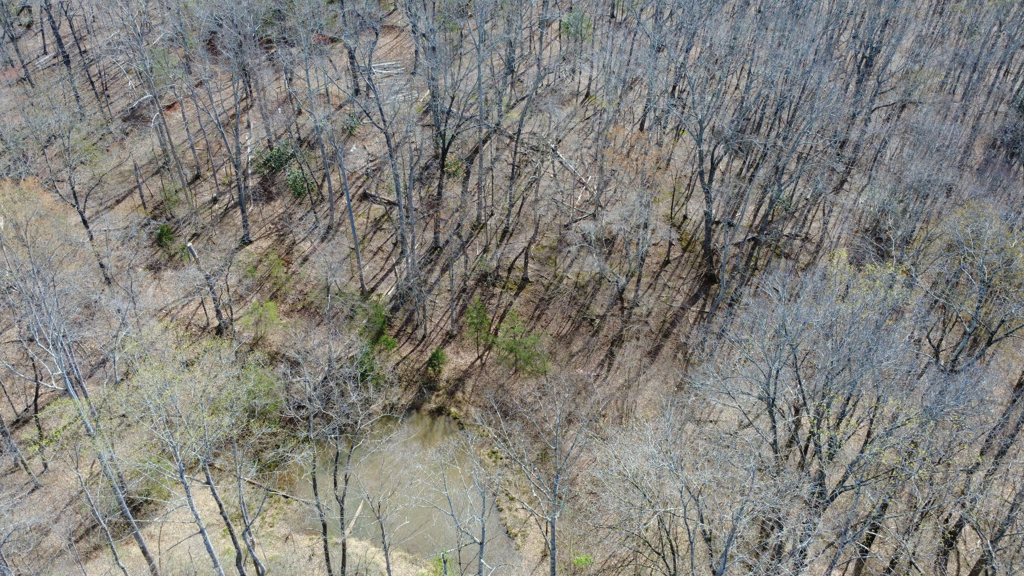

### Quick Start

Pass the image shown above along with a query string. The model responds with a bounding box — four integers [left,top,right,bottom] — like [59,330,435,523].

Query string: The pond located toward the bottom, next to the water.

[274,409,517,568]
